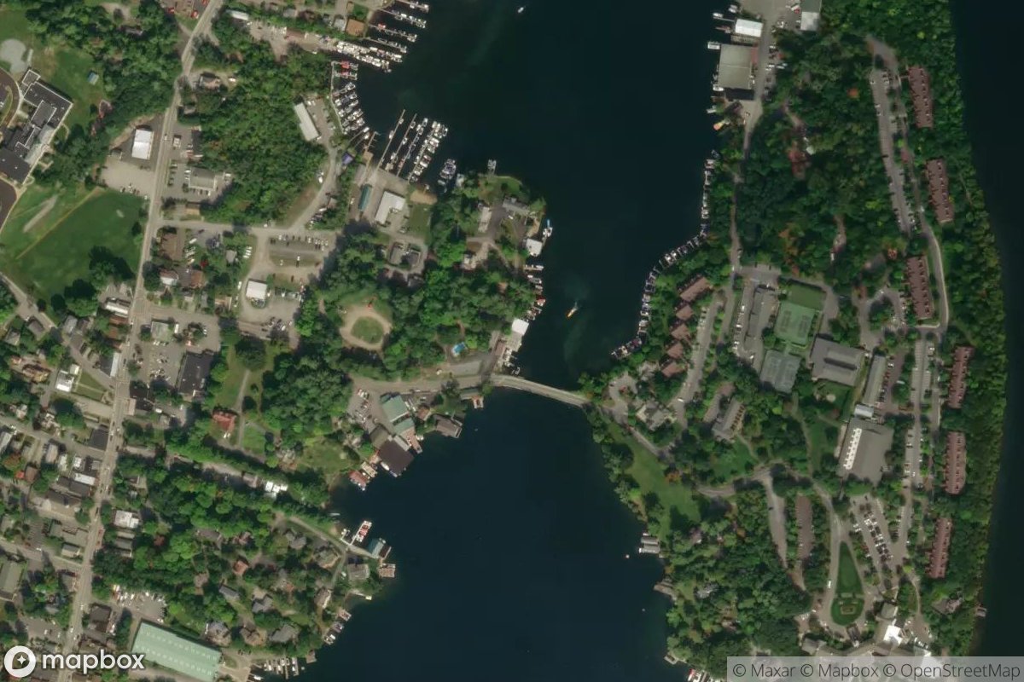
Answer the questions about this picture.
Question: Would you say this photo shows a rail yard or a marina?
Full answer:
This image shows a marina.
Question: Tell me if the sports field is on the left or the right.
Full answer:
You can find the sports field on the left side of the picture.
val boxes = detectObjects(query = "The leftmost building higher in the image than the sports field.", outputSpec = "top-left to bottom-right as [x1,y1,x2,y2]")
[0,69,72,184]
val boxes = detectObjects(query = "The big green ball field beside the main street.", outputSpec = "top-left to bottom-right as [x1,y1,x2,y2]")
[0,190,148,325]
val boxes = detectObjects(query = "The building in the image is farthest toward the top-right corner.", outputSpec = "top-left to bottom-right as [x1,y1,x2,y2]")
[908,66,936,129]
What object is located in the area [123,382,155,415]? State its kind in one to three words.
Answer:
building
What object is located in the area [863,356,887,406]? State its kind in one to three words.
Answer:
shed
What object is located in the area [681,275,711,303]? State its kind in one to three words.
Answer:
house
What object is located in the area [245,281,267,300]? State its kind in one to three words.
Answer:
barn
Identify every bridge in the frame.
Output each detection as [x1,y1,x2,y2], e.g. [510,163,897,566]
[488,376,592,411]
